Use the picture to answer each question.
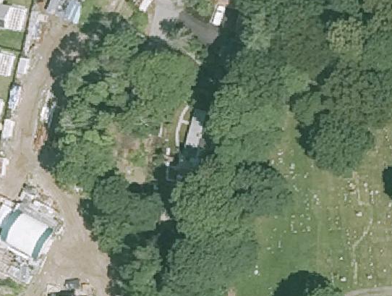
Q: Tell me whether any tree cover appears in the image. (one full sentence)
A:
Yes, tree cover can be seen from above here.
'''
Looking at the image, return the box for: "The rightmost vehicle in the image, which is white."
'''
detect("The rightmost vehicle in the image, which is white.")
[210,5,226,27]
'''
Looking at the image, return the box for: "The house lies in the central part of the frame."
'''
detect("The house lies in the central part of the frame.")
[184,107,208,148]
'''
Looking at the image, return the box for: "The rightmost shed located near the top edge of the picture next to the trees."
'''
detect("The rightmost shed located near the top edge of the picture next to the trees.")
[46,0,85,24]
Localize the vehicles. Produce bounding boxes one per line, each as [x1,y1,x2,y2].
[136,0,151,11]
[210,5,226,27]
